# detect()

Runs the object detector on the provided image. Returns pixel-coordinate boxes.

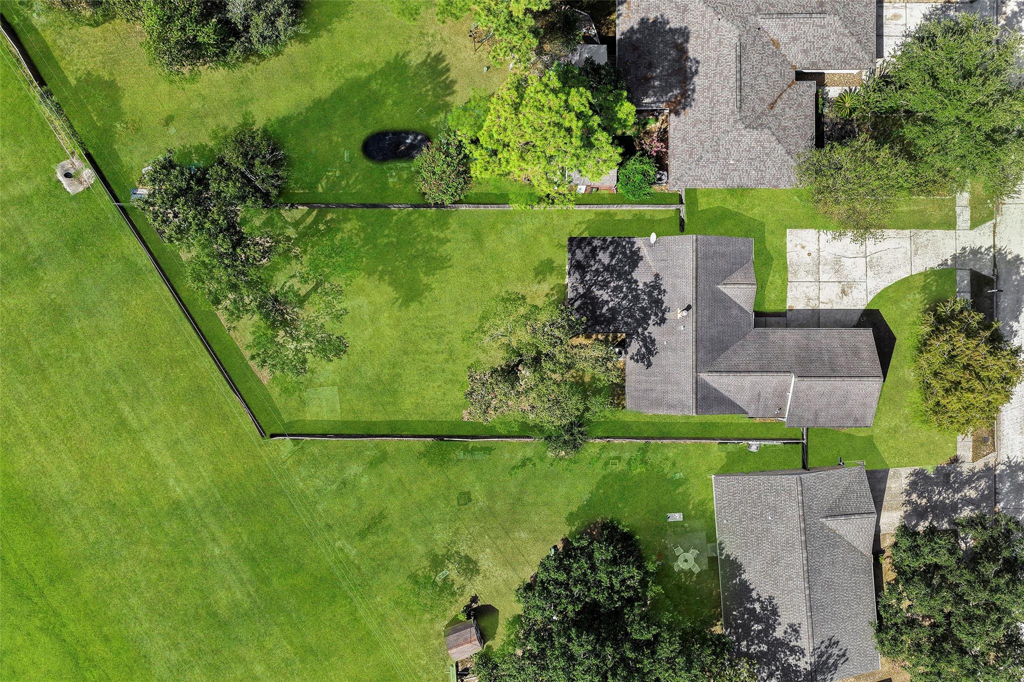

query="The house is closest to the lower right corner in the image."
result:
[707,462,882,682]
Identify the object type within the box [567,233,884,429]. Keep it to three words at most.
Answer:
house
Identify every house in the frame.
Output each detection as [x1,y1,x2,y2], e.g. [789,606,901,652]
[707,462,882,682]
[567,233,884,429]
[614,0,878,192]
